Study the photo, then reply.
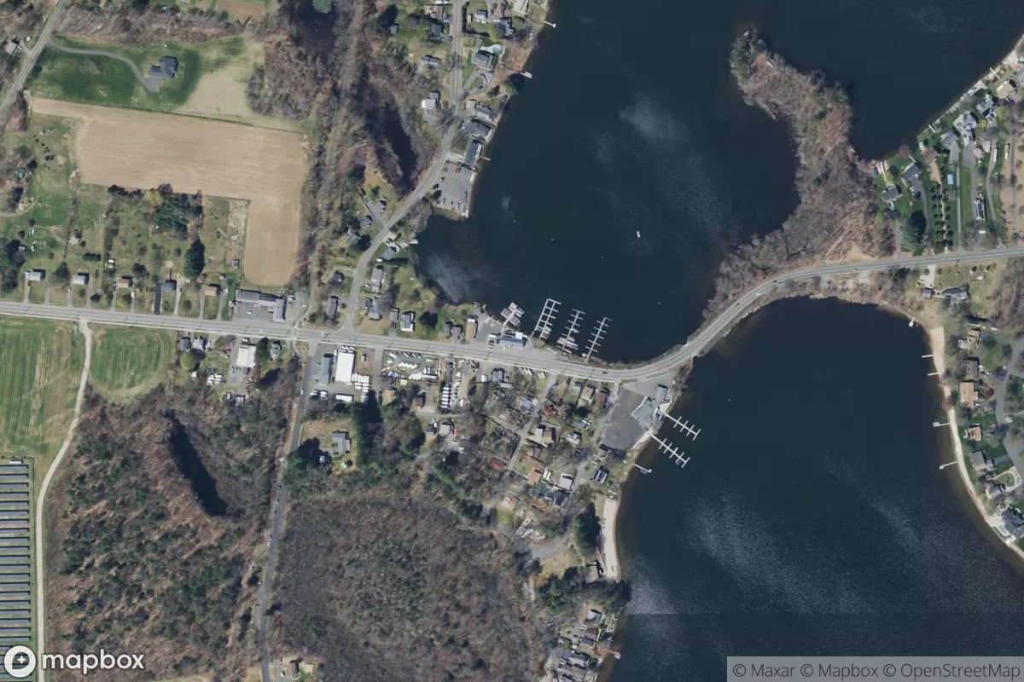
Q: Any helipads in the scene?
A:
No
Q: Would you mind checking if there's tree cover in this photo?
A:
Yes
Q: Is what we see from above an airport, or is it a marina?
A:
marina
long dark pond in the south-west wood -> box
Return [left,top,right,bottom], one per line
[167,410,229,517]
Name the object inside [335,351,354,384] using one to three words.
building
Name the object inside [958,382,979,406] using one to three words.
house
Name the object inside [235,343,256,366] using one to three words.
building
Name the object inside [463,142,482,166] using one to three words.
house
